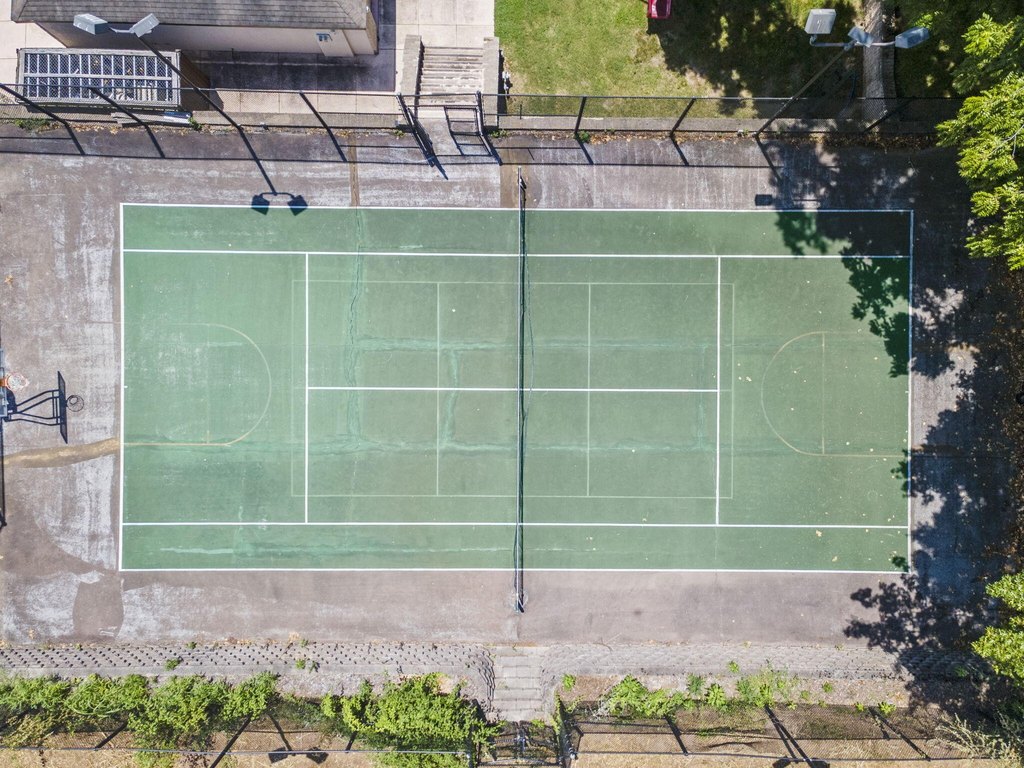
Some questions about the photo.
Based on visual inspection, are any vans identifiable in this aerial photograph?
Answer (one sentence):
No, there appears to be no van in this shot.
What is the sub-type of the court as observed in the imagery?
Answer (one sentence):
In the photo, the court shows up as a tennis court.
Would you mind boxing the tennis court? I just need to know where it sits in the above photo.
[119,202,913,574]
